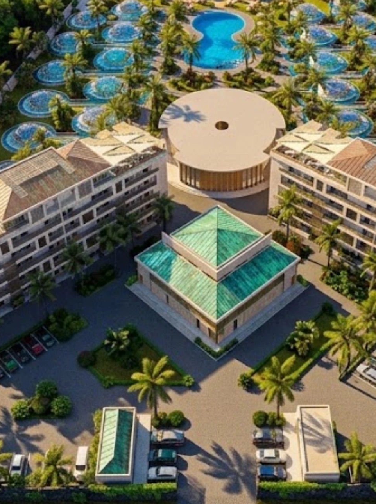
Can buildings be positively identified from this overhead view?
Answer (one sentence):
Yes, there's a building down there.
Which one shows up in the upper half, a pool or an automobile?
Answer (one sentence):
You can see a pool in the upper half.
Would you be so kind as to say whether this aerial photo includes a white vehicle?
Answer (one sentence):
Yes, there is a white vehicle in the image.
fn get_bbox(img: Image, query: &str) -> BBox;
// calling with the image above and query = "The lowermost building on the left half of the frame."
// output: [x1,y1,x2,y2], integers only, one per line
[95,407,137,487]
